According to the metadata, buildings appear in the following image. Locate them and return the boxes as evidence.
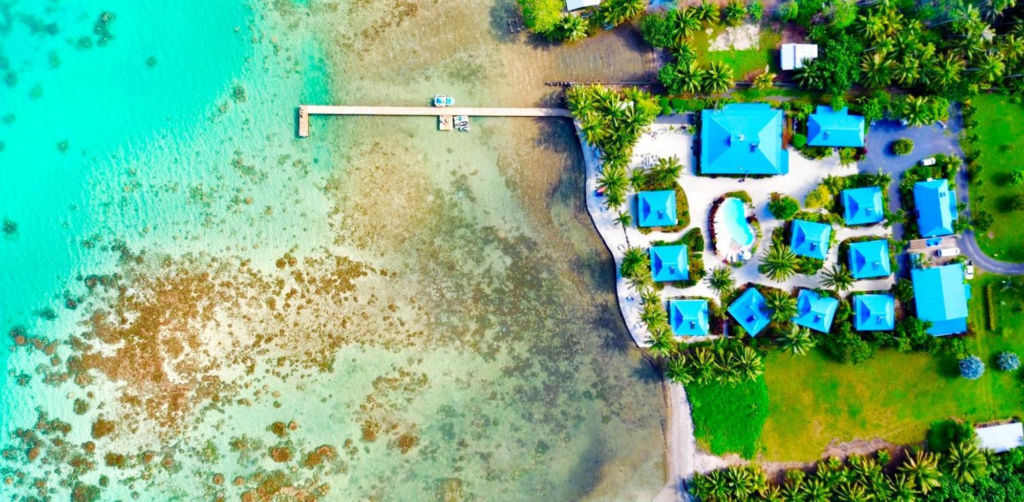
[805,107,864,149]
[851,295,893,330]
[972,421,1024,453]
[786,220,831,259]
[566,0,600,14]
[903,263,968,336]
[844,240,889,278]
[701,101,788,174]
[778,43,818,71]
[724,288,771,336]
[647,245,689,281]
[911,181,956,237]
[788,289,838,329]
[835,187,882,225]
[667,299,708,335]
[635,191,676,227]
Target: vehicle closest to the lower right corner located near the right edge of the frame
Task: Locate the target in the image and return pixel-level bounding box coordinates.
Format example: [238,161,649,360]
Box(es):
[961,261,973,281]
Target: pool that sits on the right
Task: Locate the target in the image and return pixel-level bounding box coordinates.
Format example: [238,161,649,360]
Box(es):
[720,197,755,247]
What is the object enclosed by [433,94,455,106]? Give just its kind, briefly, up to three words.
boat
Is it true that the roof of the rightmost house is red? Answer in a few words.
No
